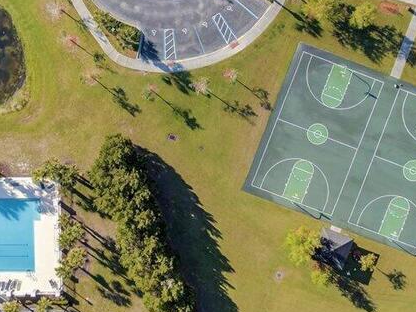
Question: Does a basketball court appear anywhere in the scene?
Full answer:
Yes, looking at the shot, I can spot a basketball court.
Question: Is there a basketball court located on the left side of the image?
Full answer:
No, I see no basketball court on the left side of the image.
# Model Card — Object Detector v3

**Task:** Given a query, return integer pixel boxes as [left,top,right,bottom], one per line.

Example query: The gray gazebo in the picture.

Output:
[313,225,353,267]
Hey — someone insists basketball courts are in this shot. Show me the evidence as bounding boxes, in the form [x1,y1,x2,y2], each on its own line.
[338,79,416,255]
[244,43,393,225]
